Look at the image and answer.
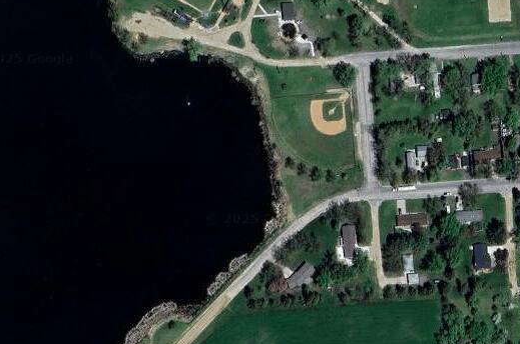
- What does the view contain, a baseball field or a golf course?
baseball field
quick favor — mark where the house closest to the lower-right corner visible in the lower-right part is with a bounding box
[471,243,488,270]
